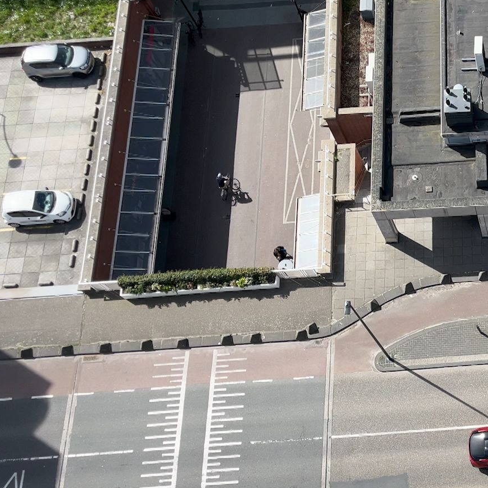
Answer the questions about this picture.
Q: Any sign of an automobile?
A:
Yes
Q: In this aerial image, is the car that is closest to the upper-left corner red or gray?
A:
gray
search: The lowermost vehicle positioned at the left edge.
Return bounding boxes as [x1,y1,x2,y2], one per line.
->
[3,187,78,231]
